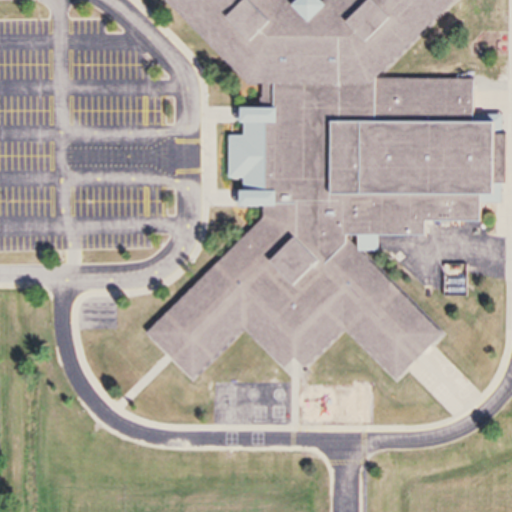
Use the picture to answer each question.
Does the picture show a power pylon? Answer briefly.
No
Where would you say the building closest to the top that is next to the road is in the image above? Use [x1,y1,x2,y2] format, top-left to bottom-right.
[148,0,506,382]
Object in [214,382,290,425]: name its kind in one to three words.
sports court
